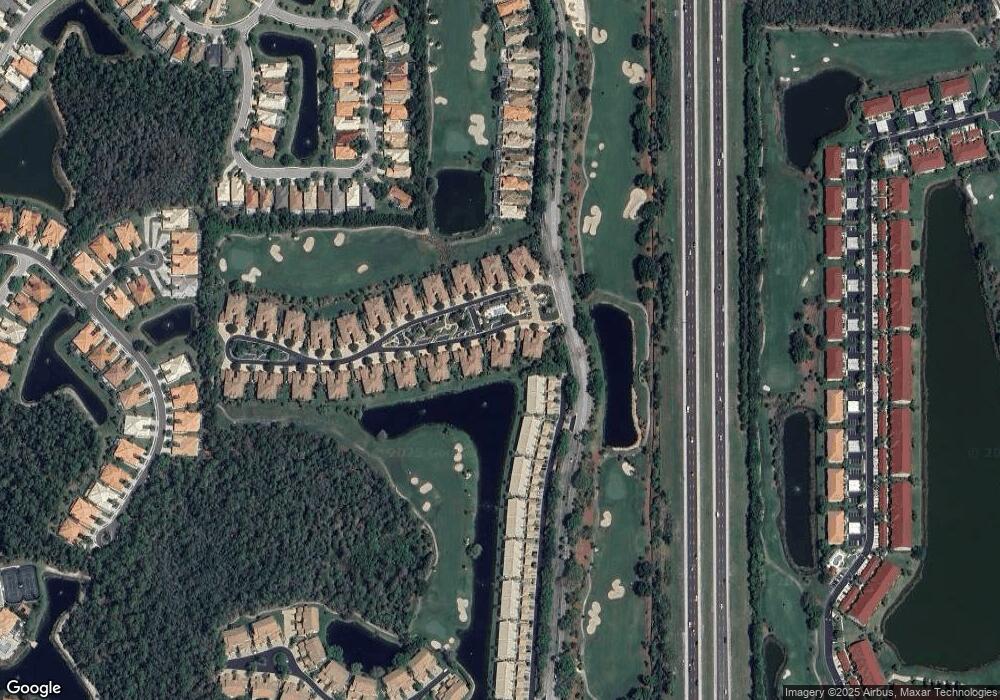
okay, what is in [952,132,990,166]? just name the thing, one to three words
building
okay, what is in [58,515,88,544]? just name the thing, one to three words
house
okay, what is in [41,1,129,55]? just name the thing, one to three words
pond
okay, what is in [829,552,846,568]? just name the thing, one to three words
swimming pool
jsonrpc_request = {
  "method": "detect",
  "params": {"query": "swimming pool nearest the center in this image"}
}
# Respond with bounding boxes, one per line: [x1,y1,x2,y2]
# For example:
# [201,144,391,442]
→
[486,304,509,318]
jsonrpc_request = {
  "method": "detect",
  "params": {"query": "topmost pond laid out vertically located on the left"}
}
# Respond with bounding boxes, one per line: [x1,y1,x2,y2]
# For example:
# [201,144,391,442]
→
[260,32,318,159]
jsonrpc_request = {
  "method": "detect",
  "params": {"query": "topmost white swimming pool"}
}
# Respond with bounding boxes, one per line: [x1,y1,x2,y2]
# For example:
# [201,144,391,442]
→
[882,149,902,169]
